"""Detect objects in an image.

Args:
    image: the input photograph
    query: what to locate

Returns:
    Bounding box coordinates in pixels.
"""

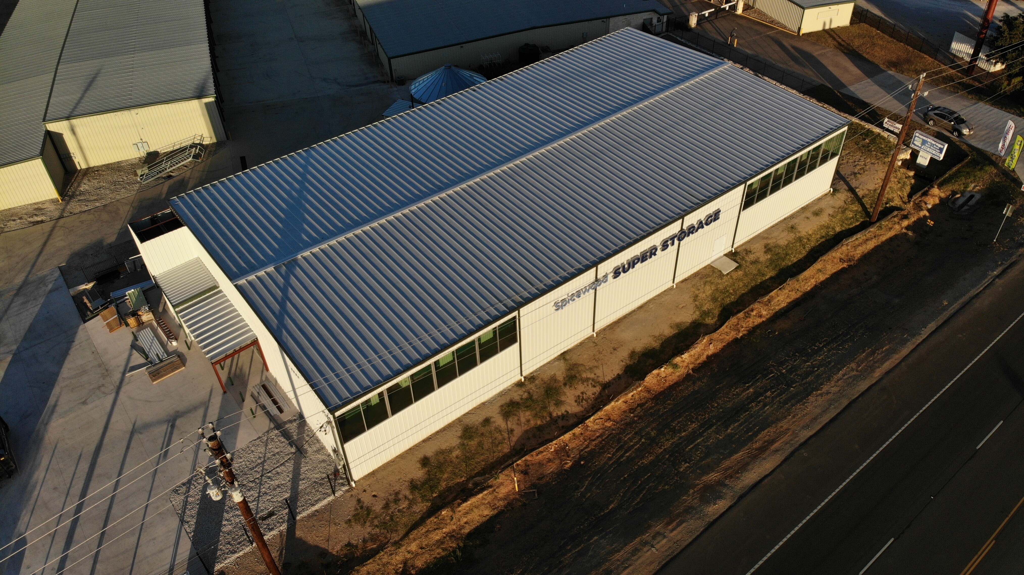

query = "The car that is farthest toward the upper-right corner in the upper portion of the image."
[925,106,977,137]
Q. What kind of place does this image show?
industrial area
